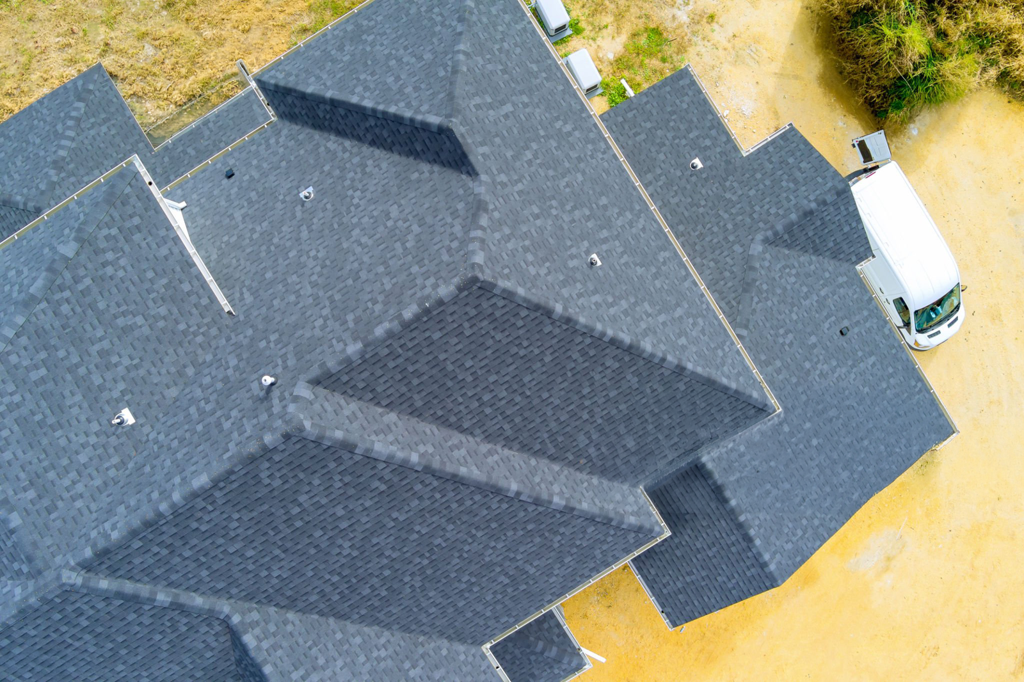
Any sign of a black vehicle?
No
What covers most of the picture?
buildings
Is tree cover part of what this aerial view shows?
No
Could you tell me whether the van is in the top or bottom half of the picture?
top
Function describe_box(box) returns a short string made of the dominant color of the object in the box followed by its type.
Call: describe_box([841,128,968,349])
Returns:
white van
